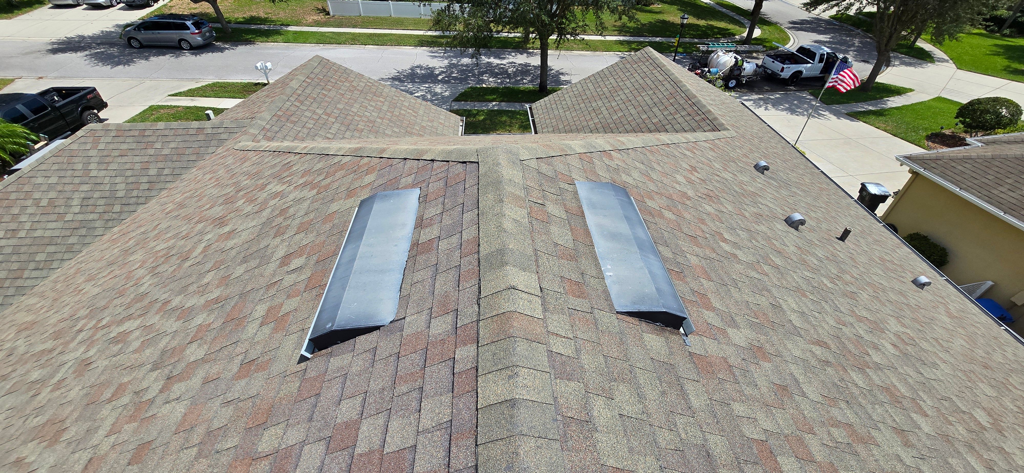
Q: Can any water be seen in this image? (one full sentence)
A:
No, the picture contains no water.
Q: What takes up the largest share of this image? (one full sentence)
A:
The bulk of the photo consists of buildings.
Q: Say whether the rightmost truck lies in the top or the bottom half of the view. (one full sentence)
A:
Seen from above, the rightmost truck lies in the top half of the view.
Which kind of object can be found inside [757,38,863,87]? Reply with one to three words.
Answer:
truck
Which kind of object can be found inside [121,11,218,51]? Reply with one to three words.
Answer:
car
